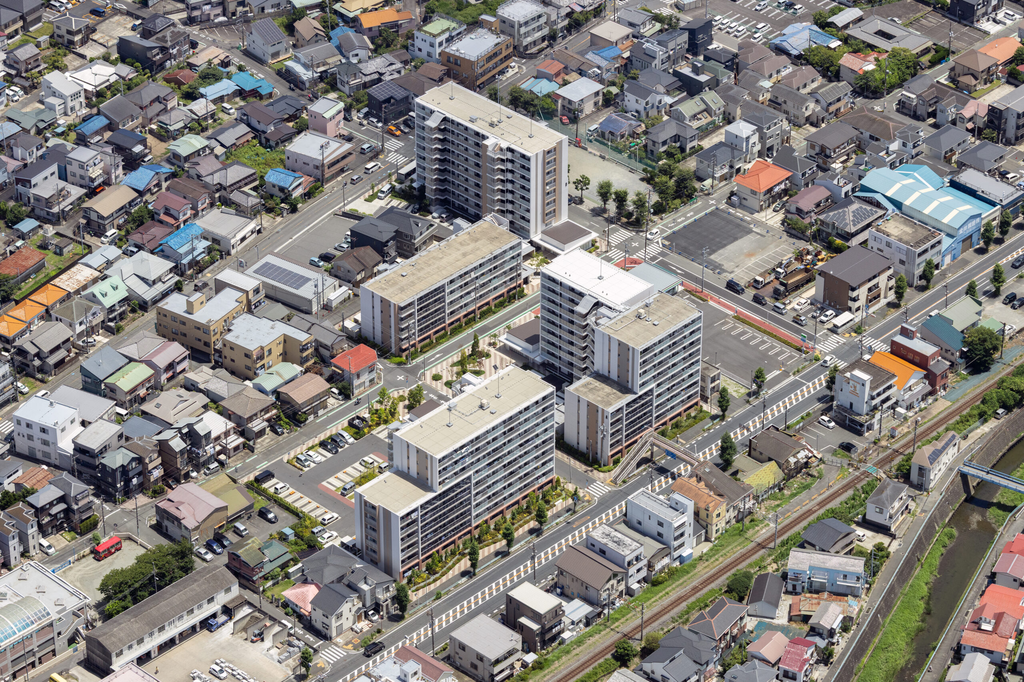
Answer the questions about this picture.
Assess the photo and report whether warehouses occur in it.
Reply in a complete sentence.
Yes, there is a warehouse in the image.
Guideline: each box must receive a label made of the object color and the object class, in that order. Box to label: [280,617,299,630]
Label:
white vehicle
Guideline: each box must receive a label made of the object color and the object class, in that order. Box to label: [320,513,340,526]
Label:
white vehicle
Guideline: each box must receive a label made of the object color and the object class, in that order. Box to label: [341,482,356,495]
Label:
gray vehicle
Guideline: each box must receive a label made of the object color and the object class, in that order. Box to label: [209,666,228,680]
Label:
white car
